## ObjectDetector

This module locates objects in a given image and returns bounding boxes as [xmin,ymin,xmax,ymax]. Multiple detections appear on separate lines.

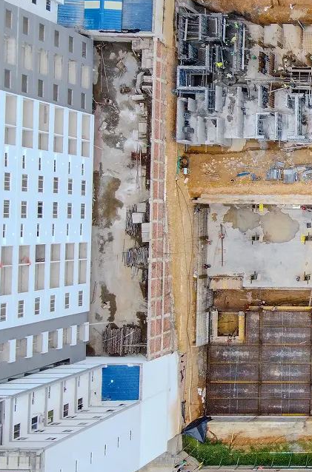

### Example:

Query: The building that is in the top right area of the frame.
[176,12,312,147]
